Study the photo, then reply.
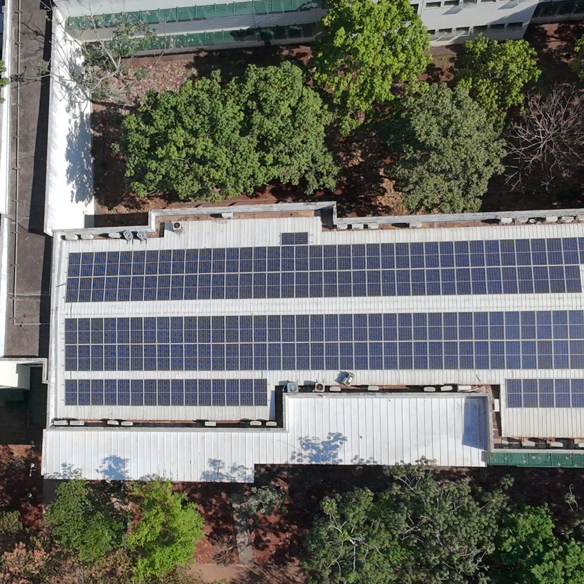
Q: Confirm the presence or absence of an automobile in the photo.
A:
No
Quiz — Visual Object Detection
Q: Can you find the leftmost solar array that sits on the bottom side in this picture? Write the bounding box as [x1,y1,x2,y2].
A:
[62,380,271,406]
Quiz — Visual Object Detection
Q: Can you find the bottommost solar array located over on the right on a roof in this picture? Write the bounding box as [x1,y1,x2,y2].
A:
[506,379,584,407]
